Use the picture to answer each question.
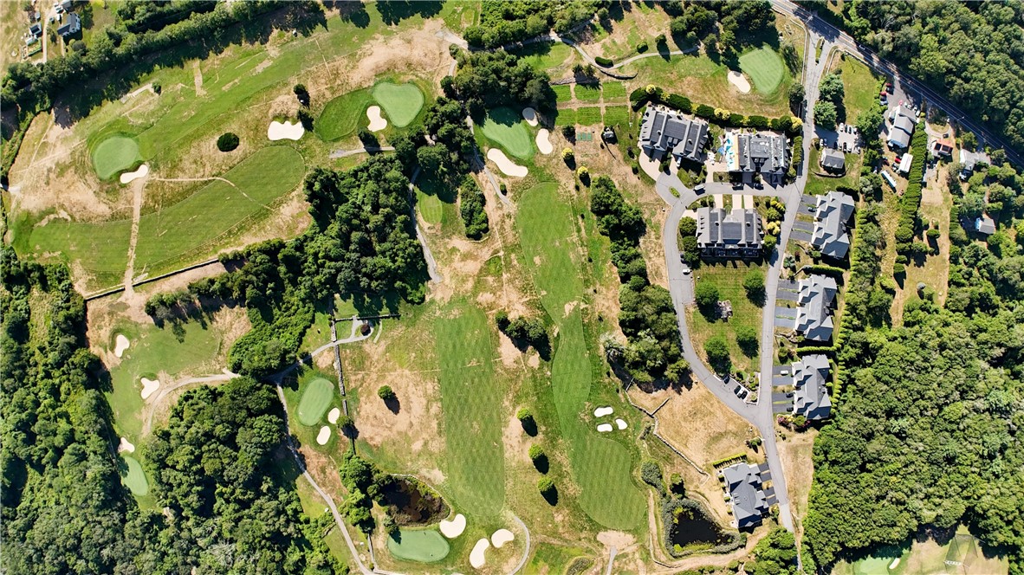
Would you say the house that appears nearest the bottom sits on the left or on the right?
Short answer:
right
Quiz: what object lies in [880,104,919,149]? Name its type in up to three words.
building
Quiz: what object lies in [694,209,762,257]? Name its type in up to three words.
house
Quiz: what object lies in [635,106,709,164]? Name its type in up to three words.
house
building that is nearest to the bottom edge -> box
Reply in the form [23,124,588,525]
[719,458,768,528]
